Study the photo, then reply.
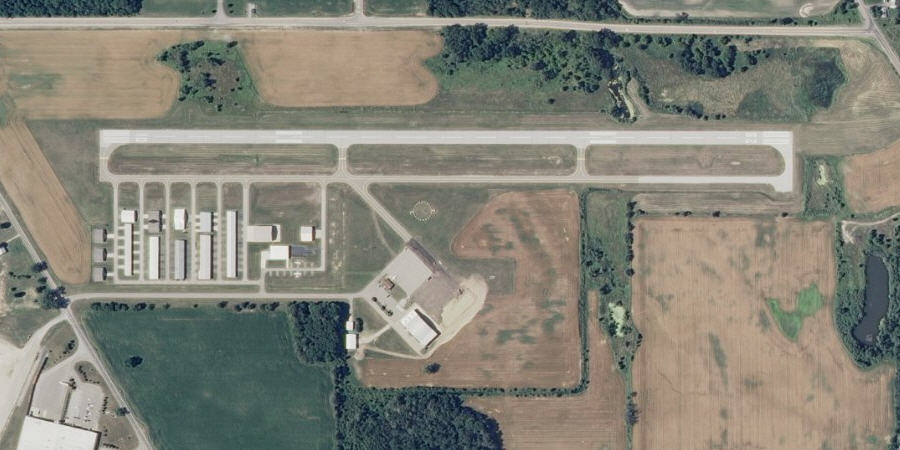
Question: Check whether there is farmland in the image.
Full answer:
Yes, the picture does contain farmland.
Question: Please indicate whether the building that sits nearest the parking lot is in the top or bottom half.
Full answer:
You can find the building that sits nearest the parking lot in the bottom half.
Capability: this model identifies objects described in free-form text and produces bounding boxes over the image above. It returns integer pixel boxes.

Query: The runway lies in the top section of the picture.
[99,129,793,145]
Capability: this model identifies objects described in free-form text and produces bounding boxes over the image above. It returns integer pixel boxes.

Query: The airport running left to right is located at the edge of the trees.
[99,129,793,356]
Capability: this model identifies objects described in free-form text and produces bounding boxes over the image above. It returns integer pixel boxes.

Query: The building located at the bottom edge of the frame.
[17,417,98,450]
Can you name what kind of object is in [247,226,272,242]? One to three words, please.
hangar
